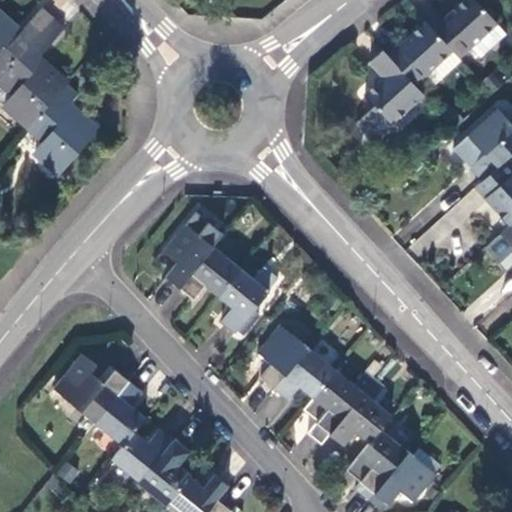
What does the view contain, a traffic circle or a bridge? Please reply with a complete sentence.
Looking from above, you can make out a traffic circle.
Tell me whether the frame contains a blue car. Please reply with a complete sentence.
Yes, looking at the shot, I can spot a blue car.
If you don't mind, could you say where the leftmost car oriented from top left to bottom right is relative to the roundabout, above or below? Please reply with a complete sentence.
Looking at the photo, you'll find the leftmost car oriented from top left to bottom right below the roundabout.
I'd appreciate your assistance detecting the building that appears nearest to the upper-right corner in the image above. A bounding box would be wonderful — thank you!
[426,0,506,60]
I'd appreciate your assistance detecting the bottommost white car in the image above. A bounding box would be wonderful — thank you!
[230,476,251,498]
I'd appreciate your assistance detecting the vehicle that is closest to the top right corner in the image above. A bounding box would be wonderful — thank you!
[441,190,460,210]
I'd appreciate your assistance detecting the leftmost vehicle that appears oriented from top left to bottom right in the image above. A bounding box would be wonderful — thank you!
[172,376,192,398]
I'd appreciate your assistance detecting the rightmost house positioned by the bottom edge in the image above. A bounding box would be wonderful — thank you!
[380,444,442,511]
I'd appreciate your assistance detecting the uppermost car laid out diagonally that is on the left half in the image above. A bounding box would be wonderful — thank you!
[156,283,172,304]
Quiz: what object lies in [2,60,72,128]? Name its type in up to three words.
house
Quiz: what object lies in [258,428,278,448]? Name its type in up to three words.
car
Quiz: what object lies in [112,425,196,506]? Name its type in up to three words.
house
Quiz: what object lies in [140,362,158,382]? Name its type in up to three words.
car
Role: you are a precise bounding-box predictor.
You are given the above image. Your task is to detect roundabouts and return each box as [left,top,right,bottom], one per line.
[148,30,292,178]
